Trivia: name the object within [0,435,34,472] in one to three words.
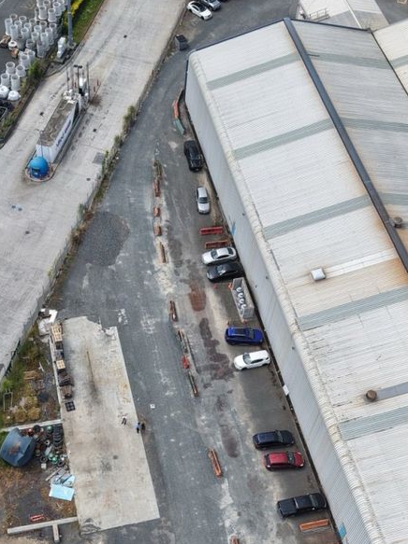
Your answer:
storage tank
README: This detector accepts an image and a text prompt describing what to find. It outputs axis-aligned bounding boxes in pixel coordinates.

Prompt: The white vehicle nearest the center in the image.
[201,246,238,266]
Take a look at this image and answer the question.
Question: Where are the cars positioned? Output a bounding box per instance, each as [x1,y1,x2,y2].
[195,186,211,212]
[187,1,213,19]
[186,141,203,168]
[200,0,221,9]
[226,325,263,345]
[234,349,271,370]
[253,428,296,448]
[201,246,238,266]
[265,451,304,471]
[207,263,244,283]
